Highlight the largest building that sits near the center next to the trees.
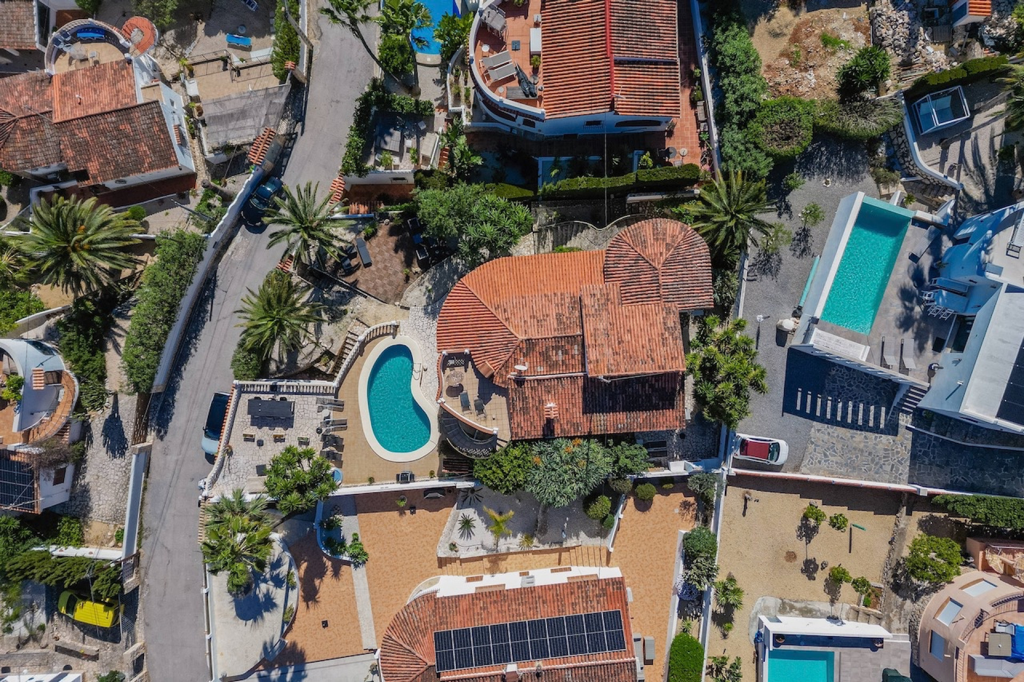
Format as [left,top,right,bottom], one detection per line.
[436,217,715,457]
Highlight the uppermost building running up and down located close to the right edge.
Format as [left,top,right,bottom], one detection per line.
[922,199,1024,431]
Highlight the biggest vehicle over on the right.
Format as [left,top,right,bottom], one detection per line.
[733,437,792,468]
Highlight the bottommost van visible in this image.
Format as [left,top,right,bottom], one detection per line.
[55,592,121,634]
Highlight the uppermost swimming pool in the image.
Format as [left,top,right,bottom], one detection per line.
[411,0,460,66]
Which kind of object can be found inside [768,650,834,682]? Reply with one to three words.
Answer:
swimming pool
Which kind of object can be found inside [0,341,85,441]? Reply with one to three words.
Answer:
house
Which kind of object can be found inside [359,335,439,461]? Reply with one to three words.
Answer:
swimming pool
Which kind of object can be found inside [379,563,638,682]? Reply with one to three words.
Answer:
house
